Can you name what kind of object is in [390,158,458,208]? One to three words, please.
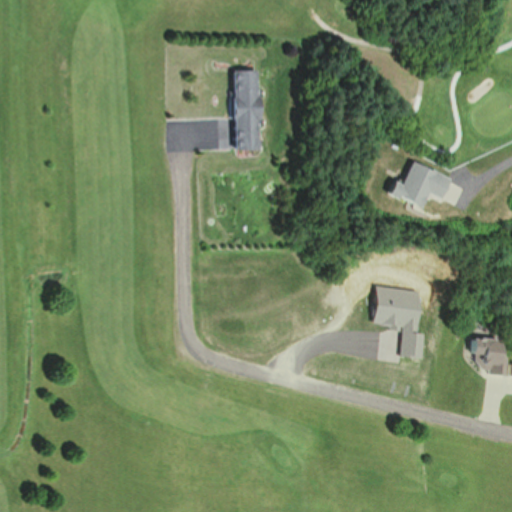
house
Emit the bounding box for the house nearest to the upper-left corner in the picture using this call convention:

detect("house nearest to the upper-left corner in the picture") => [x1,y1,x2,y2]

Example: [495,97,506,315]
[228,69,264,150]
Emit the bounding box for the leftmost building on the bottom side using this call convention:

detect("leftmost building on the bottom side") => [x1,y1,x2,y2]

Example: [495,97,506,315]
[375,286,426,358]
